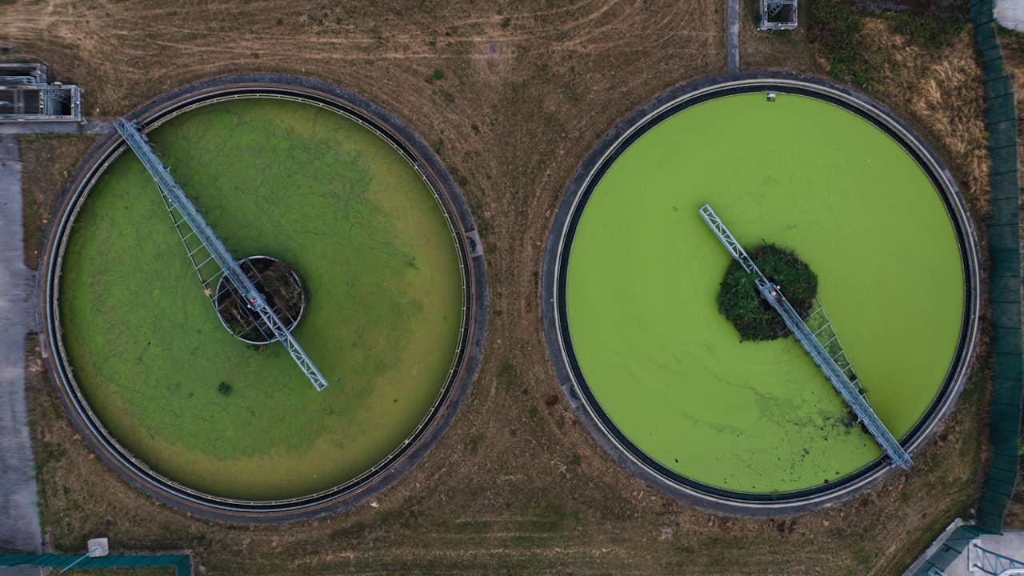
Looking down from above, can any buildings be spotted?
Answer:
No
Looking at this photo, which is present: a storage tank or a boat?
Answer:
storage tank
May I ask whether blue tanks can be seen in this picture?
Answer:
No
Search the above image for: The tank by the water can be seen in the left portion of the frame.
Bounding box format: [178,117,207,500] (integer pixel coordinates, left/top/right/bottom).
[41,82,477,517]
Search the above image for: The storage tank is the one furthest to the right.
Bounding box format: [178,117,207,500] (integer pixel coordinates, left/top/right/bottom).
[552,79,981,507]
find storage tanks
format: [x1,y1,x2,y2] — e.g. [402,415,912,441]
[552,79,981,507]
[41,82,477,517]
